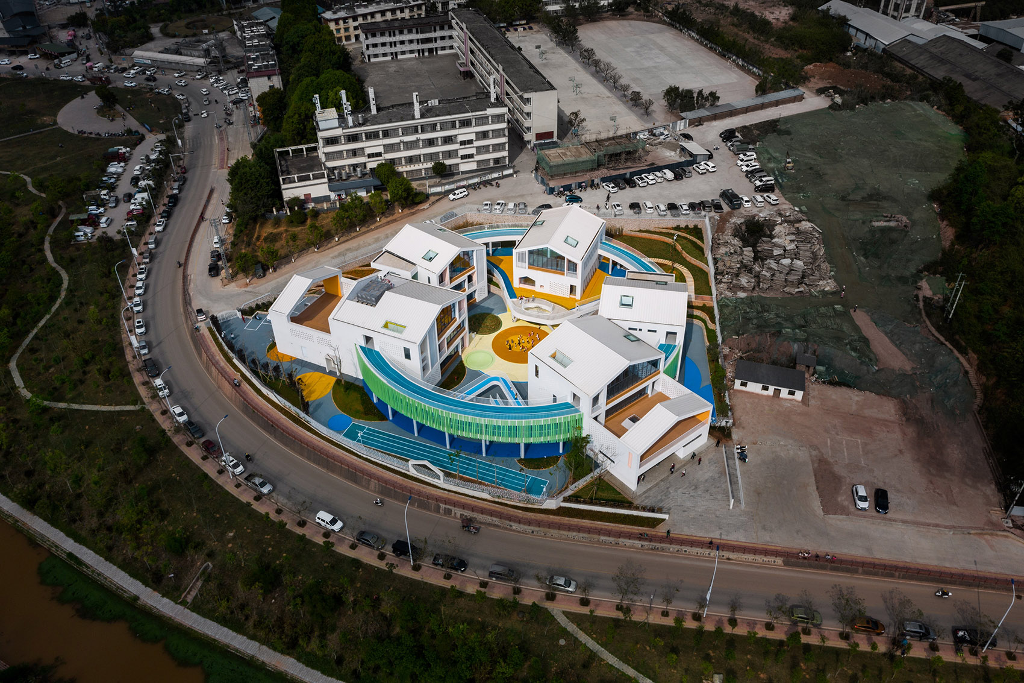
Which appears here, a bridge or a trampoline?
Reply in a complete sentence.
Visible in the photo is a bridge.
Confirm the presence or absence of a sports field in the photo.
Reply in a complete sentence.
Yes, there is a sports field in the image.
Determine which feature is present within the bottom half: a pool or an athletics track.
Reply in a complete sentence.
The one visible within the bottom half is an athletics track.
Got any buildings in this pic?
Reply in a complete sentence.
Yes, the image includes a building.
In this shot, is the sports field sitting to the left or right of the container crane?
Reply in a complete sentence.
You can see the sports field positioned to the left of the container crane.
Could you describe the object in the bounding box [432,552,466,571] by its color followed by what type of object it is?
black car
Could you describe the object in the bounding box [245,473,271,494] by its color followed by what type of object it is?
gray car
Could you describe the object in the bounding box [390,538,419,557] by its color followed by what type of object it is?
black car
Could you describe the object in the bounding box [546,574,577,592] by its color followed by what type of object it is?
gray car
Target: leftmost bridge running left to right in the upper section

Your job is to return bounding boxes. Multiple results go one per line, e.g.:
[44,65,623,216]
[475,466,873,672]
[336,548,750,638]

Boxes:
[454,224,532,250]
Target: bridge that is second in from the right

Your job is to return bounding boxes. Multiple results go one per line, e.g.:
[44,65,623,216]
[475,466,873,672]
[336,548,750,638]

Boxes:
[599,237,661,273]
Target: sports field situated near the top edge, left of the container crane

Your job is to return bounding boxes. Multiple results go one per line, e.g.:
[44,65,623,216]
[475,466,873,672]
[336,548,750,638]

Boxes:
[578,20,758,113]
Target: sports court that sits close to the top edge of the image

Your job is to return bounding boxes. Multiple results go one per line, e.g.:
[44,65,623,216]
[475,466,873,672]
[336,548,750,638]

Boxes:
[506,27,645,142]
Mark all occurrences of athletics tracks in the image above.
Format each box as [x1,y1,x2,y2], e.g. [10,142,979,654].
[342,422,548,497]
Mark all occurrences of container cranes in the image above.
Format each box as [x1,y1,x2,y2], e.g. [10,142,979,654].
[936,0,987,30]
